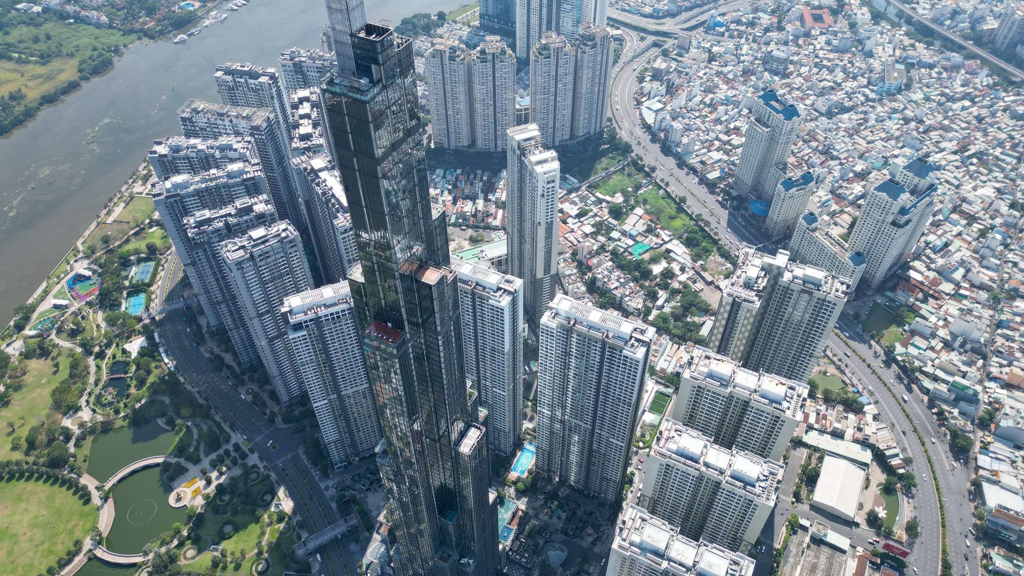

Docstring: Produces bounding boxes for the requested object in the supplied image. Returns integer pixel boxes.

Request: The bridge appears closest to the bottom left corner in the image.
[85,542,157,566]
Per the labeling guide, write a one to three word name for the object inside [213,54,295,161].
building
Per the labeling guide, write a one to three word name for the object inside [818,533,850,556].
building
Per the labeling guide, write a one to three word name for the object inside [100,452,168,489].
bridge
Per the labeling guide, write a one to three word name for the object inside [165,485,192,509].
fountain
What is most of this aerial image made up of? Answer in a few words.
buildings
